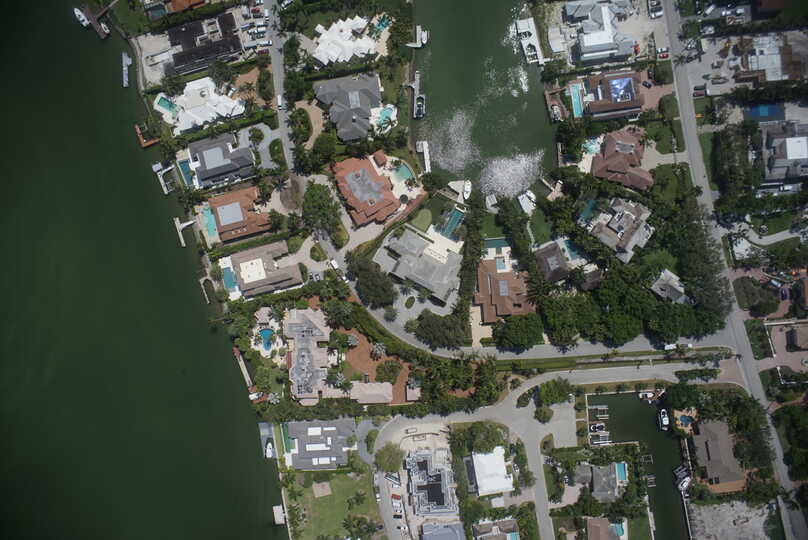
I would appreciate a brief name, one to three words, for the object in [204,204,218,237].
swimming pool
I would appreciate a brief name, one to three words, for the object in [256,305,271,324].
gazebo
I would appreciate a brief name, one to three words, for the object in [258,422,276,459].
pier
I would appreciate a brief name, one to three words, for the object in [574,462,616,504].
house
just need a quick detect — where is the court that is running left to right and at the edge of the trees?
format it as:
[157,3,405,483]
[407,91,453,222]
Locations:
[744,104,785,121]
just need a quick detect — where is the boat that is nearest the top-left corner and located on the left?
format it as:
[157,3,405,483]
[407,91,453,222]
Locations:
[74,9,89,28]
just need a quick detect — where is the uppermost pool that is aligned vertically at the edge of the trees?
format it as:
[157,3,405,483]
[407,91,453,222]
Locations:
[570,83,583,118]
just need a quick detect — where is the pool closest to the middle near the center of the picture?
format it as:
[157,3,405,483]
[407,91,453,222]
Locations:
[440,208,465,238]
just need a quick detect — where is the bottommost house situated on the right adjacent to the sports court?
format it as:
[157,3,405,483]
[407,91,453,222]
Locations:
[759,124,808,186]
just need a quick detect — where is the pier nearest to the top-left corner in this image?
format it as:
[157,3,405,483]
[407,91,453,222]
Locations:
[82,0,118,38]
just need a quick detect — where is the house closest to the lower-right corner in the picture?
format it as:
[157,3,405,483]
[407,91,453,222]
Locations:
[691,418,743,487]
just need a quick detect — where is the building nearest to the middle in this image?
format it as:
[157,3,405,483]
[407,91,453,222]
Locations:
[381,227,473,313]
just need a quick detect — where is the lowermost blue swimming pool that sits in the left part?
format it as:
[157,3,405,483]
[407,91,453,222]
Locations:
[260,328,275,352]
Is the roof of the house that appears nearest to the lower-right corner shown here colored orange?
No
